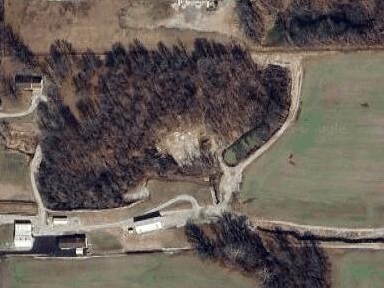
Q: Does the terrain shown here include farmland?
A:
Yes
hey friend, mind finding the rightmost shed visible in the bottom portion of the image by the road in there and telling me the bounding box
[133,213,164,233]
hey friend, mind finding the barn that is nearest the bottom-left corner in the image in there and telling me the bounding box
[15,223,32,247]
